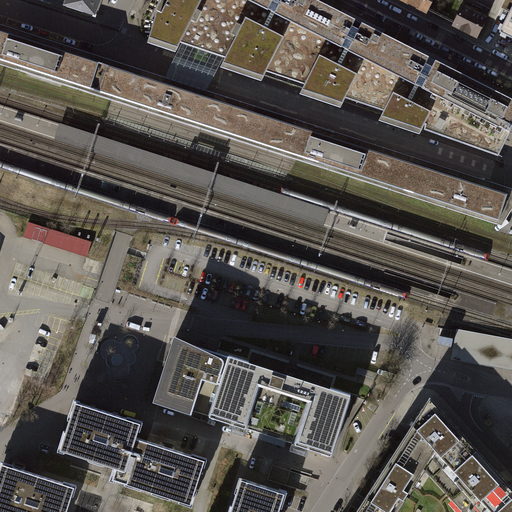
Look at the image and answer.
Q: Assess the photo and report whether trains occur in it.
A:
Yes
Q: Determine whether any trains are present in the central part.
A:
Yes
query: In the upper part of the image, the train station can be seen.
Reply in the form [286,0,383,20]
[0,101,512,287]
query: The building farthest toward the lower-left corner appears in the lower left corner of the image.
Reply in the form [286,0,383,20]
[0,456,82,512]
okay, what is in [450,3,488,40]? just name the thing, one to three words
house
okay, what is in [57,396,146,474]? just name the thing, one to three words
building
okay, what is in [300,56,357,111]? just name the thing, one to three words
building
